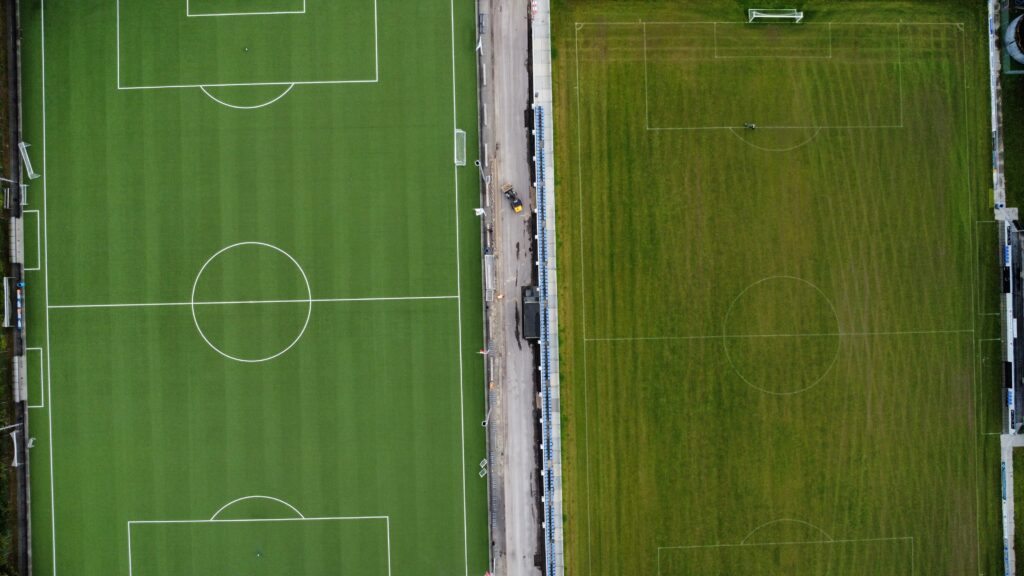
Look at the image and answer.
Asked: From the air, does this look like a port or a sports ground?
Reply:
sports ground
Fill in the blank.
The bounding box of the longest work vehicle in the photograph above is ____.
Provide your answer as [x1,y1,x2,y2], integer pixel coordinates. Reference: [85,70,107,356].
[500,181,523,214]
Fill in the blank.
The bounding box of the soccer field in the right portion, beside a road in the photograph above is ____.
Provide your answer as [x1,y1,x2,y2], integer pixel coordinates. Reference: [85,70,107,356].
[549,0,1019,576]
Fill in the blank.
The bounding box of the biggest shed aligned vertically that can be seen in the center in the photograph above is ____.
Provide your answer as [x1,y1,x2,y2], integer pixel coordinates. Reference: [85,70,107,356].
[521,286,540,339]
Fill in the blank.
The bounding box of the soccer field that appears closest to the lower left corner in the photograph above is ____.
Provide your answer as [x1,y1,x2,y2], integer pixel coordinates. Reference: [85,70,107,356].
[19,0,489,576]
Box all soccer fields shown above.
[549,0,1019,576]
[19,0,489,576]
